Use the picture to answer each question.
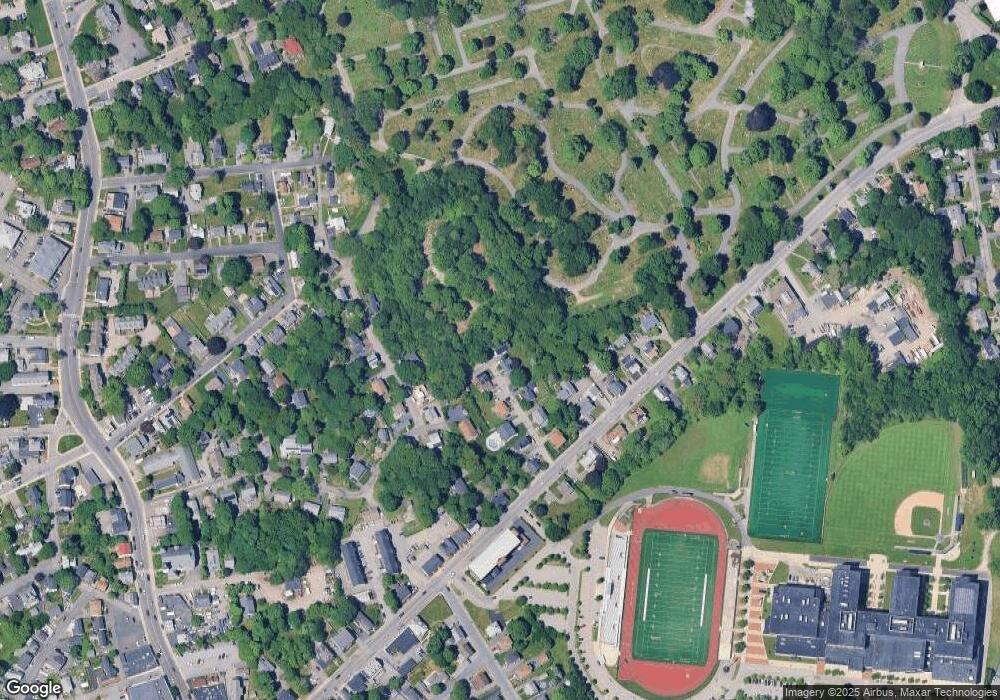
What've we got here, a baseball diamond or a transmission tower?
baseball diamond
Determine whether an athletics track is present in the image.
Yes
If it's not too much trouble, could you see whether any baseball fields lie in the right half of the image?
Yes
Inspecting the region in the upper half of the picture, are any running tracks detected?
No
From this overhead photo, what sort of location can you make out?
residential area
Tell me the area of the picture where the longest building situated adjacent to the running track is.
bottom right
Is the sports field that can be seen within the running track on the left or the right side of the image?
right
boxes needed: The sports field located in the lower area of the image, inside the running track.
[633,530,719,666]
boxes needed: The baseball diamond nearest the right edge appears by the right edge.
[825,422,967,560]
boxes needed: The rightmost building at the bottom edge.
[764,562,983,685]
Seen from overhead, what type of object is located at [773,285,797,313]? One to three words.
building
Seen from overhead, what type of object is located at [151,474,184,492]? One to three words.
house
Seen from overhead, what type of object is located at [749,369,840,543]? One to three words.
sports field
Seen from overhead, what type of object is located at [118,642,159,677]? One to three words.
building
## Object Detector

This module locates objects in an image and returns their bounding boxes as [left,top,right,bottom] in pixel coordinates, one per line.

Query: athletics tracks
[619,497,729,697]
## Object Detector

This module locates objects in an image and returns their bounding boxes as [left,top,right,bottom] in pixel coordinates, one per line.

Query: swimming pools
[483,432,502,450]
